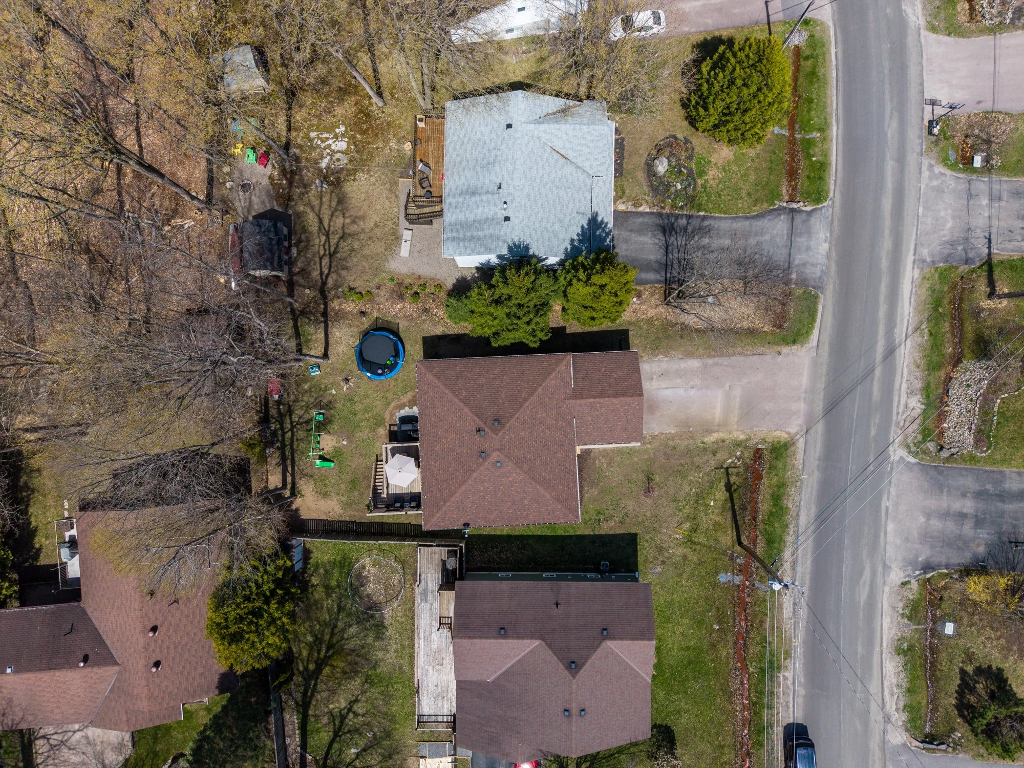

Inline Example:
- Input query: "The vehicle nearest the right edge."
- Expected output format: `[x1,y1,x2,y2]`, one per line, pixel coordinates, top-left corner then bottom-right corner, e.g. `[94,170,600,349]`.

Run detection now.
[787,737,816,768]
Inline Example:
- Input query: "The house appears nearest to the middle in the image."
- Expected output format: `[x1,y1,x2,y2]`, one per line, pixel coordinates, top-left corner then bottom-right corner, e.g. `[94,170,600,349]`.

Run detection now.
[414,348,644,531]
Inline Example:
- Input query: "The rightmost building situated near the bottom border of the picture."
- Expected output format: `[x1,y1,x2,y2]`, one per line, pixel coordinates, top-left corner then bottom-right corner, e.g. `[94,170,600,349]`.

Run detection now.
[453,571,655,763]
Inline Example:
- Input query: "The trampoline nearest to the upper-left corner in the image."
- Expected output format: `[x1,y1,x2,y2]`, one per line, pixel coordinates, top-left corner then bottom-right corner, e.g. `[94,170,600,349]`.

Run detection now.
[354,329,406,380]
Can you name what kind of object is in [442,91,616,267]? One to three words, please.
house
